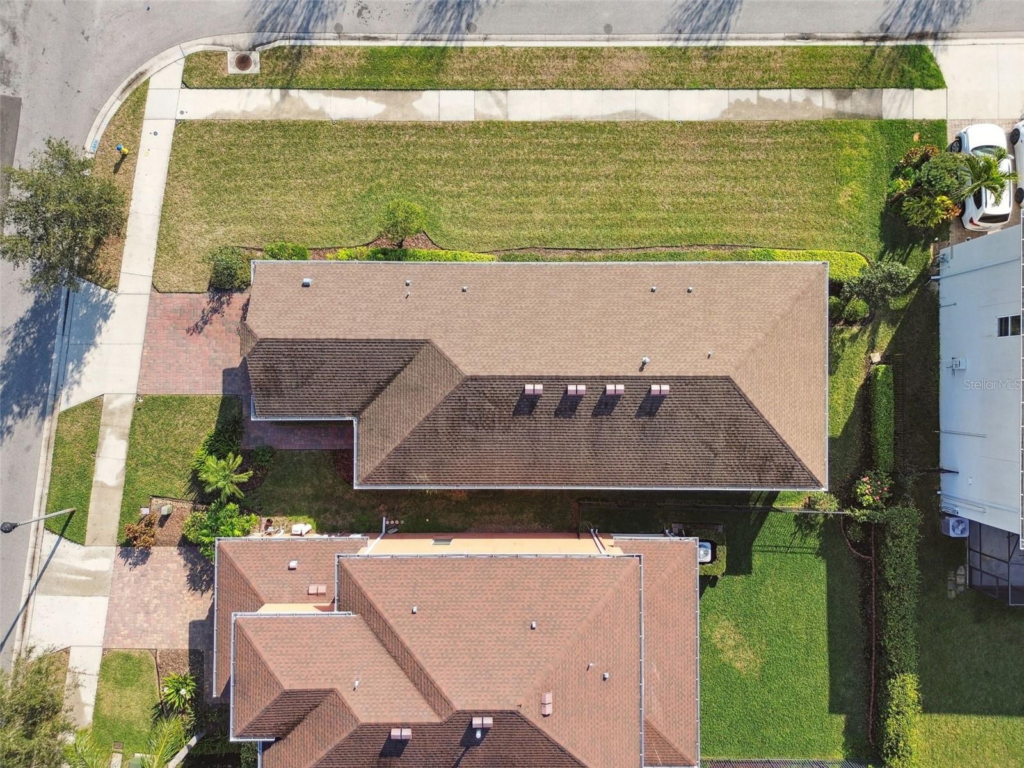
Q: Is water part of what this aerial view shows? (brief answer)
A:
No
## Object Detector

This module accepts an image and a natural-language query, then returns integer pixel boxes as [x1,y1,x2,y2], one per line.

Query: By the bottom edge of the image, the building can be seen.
[215,518,699,768]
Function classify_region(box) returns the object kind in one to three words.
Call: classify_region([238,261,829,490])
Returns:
house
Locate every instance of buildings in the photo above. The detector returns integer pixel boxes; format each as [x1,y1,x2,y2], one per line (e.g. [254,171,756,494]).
[238,261,829,490]
[932,209,1024,551]
[215,518,699,768]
